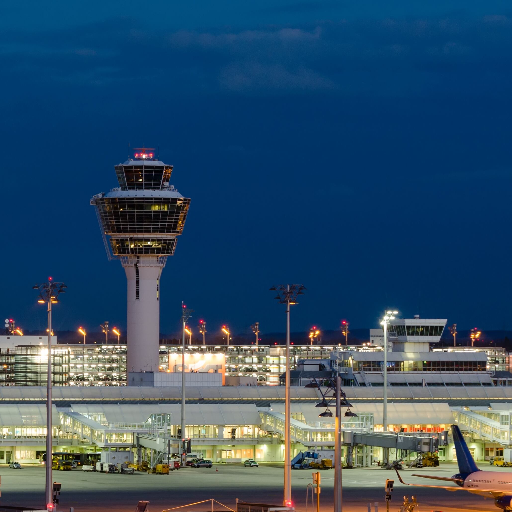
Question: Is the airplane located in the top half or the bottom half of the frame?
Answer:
bottom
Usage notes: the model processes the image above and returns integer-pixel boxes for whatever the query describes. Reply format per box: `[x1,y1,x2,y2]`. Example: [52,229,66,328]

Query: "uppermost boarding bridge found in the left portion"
[127,436,199,478]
